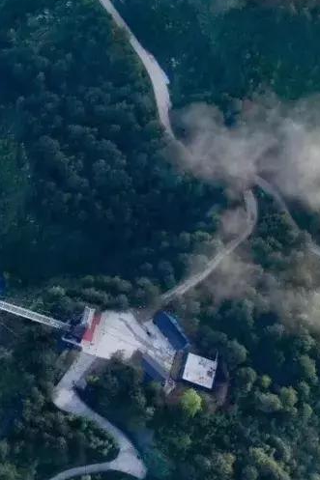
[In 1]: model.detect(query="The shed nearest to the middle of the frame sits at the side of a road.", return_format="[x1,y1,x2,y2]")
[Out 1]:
[152,311,191,352]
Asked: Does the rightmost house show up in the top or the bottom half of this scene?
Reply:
bottom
